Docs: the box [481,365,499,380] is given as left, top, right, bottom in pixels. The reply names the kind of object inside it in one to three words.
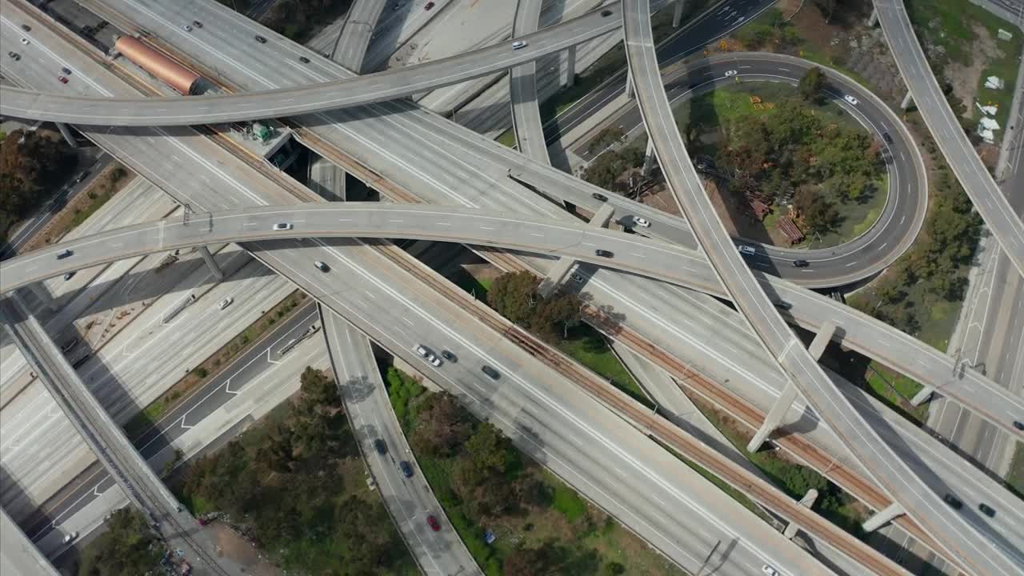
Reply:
car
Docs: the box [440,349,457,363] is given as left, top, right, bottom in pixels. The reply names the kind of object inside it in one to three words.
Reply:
car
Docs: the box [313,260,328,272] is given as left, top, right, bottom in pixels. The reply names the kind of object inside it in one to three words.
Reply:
vehicle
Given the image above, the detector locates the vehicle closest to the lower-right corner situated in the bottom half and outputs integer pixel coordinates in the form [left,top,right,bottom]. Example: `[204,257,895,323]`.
[975,500,1000,518]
